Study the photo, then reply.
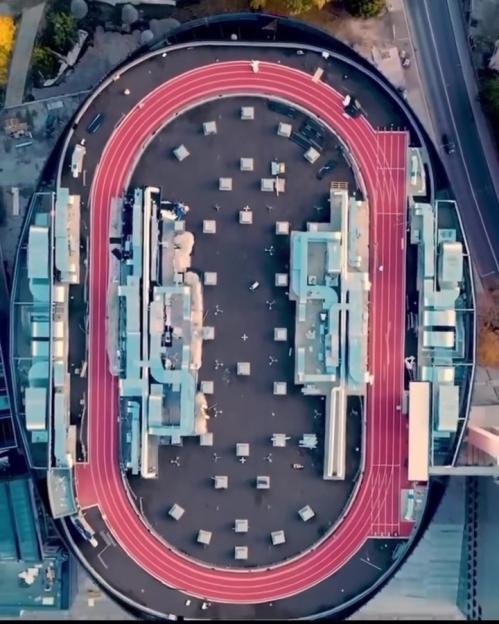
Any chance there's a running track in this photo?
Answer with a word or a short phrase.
Yes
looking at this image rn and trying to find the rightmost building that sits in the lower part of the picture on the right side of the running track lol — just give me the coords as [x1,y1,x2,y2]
[451,408,499,463]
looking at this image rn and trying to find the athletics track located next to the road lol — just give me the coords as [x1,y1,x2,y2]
[76,60,415,604]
